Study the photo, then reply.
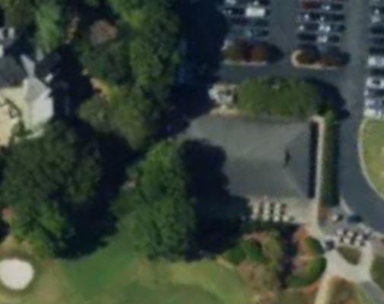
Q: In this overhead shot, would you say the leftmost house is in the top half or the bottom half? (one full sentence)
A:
It is in the top half that the leftmost house appears.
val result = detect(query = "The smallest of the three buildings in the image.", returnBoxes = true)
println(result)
[210,85,235,105]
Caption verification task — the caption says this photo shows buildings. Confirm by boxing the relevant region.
[210,85,235,105]
[188,117,311,199]
[0,30,53,148]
